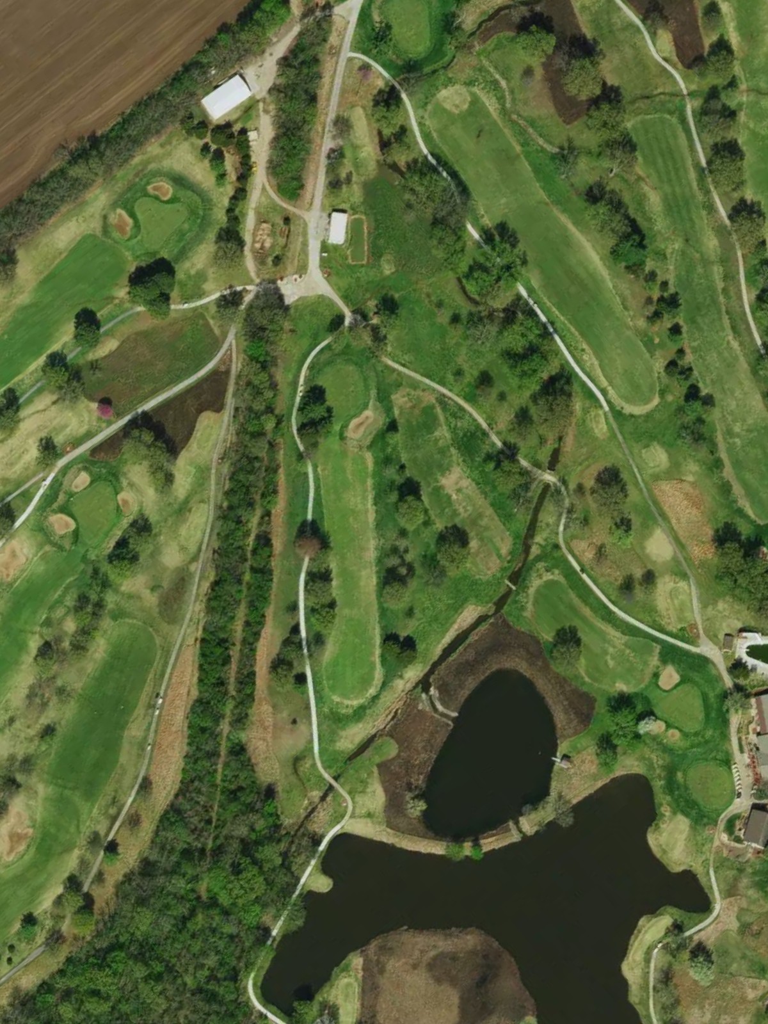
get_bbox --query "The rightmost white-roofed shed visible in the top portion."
[329,212,347,243]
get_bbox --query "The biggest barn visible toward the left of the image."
[202,74,251,119]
